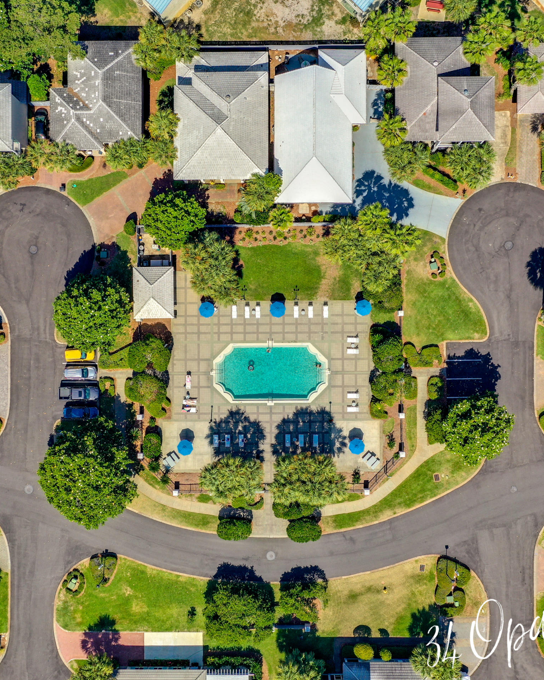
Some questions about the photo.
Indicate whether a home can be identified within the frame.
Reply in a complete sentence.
Yes, there's a home here.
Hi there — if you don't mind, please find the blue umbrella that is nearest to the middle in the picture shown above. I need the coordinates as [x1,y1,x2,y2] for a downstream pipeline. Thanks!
[270,301,286,318]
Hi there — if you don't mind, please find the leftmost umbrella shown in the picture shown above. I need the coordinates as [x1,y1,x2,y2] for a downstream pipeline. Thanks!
[177,439,193,456]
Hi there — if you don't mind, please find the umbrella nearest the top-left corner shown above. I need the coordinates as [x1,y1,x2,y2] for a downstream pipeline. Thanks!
[199,302,215,318]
